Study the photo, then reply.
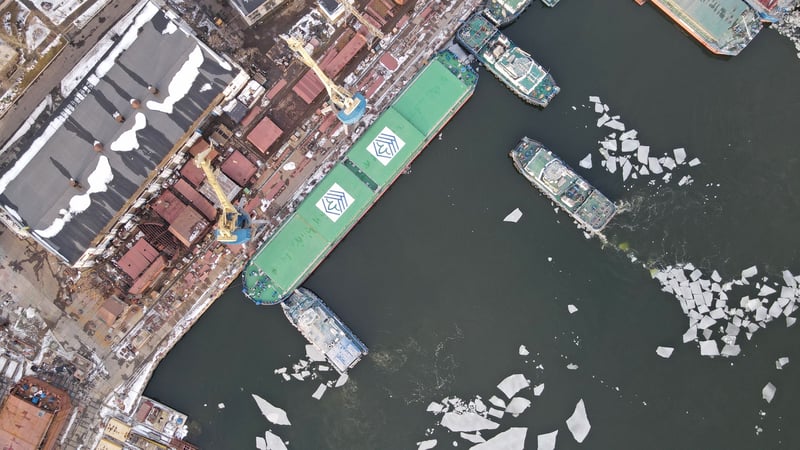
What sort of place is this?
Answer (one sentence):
The area seen from above is a port.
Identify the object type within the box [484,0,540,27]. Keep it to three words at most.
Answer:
boat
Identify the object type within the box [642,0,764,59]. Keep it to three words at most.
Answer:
ship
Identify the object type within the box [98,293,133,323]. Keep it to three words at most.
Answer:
shed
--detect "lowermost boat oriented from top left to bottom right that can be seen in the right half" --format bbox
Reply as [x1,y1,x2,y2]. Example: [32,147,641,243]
[509,138,614,229]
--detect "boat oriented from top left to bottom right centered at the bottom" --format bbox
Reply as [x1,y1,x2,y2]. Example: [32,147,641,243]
[282,286,367,371]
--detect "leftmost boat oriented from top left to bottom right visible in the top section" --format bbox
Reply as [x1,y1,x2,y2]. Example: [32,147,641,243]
[455,11,559,106]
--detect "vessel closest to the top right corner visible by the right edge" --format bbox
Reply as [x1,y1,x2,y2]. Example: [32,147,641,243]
[743,0,791,25]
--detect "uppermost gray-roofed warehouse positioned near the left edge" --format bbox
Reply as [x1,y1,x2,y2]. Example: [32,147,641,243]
[0,0,250,264]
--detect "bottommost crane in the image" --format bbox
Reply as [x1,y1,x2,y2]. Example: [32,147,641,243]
[195,148,266,251]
